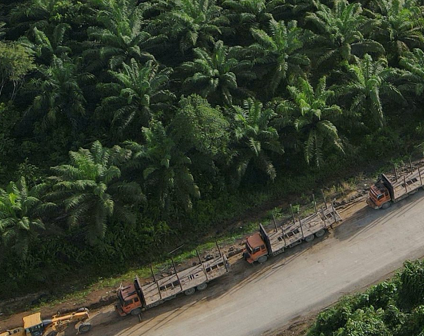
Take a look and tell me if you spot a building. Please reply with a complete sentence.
No, there isn't any building down there.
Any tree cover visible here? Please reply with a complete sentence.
Yes, the picture does contain tree cover.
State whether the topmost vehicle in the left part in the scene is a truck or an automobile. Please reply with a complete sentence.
In the photo, the topmost vehicle in the left part shows up as a truck.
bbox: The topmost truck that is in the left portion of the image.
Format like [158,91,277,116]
[112,245,223,317]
